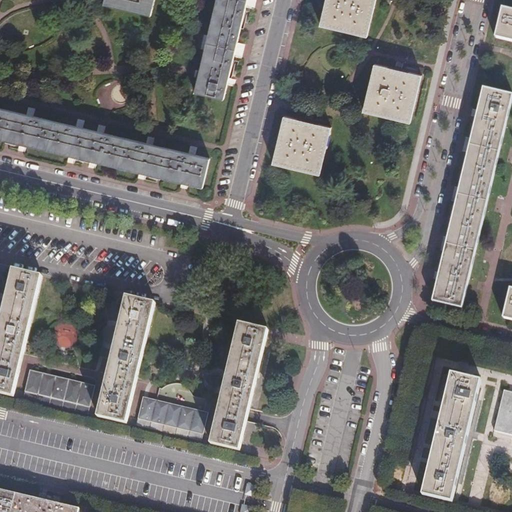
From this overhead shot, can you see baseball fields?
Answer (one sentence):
No, I can't see a single baseball field in this photo.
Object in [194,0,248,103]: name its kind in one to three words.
building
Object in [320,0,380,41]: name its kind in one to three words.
building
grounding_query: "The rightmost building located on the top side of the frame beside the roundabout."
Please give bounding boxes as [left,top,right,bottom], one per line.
[432,86,512,308]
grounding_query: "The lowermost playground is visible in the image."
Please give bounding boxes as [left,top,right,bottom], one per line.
[158,384,200,406]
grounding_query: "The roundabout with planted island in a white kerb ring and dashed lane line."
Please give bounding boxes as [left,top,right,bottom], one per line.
[298,230,412,345]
